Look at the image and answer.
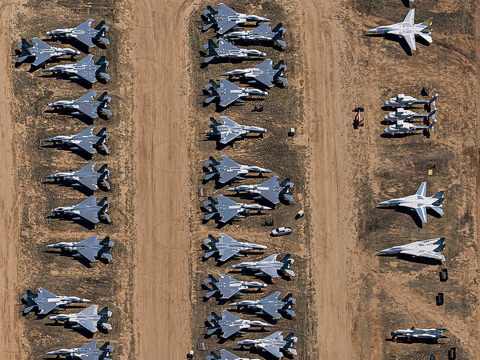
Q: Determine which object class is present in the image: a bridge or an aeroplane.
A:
aeroplane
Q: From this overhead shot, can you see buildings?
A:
No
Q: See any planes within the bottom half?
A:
Yes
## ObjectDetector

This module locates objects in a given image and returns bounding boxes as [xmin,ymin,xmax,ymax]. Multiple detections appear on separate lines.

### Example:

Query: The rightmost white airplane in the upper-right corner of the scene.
[367,10,431,51]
